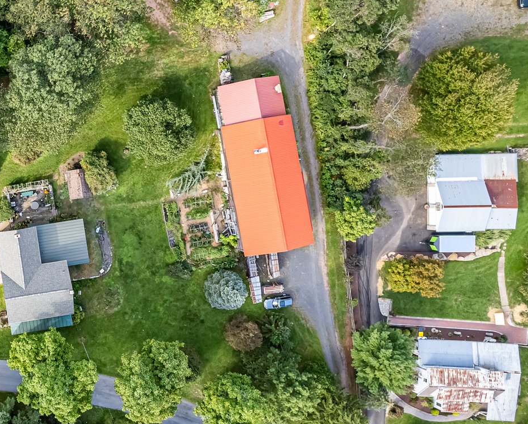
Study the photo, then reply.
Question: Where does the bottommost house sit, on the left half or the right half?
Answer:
right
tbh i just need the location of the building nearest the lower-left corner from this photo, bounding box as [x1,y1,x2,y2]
[0,219,90,334]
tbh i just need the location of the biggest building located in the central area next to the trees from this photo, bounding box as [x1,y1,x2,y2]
[217,114,313,256]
